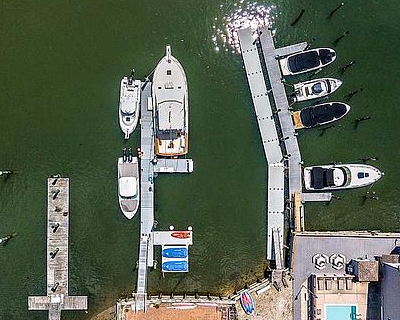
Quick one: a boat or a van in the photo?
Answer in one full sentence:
The image shows a boat.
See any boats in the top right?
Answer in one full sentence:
Yes, a boat shows up in the top right.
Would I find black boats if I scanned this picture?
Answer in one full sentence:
Yes, there's a black boat down there.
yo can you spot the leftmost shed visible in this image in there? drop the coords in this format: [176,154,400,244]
[352,258,379,281]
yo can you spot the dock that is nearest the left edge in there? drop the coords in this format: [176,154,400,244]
[29,178,88,320]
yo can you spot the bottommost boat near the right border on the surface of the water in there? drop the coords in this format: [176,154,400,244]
[302,164,385,190]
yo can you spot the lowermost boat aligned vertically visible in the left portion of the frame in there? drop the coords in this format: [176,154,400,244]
[119,151,140,219]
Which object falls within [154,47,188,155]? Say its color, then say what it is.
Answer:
white boat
